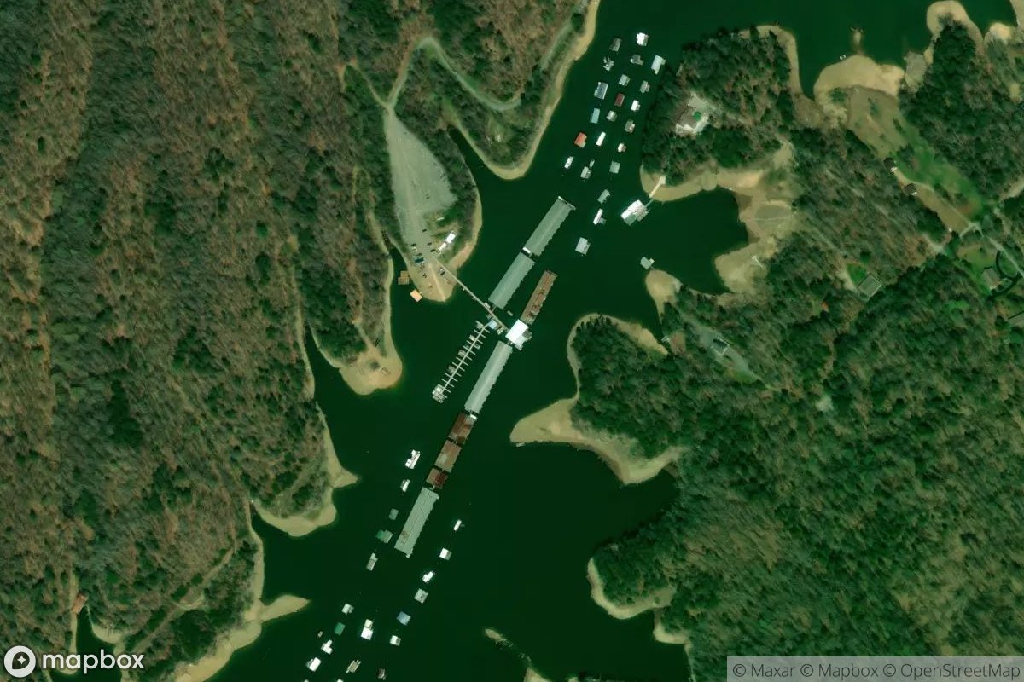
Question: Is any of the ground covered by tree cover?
Yes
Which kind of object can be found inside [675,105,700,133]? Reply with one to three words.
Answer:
house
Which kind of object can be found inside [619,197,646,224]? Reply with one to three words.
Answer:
building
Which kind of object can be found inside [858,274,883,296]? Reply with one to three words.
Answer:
house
